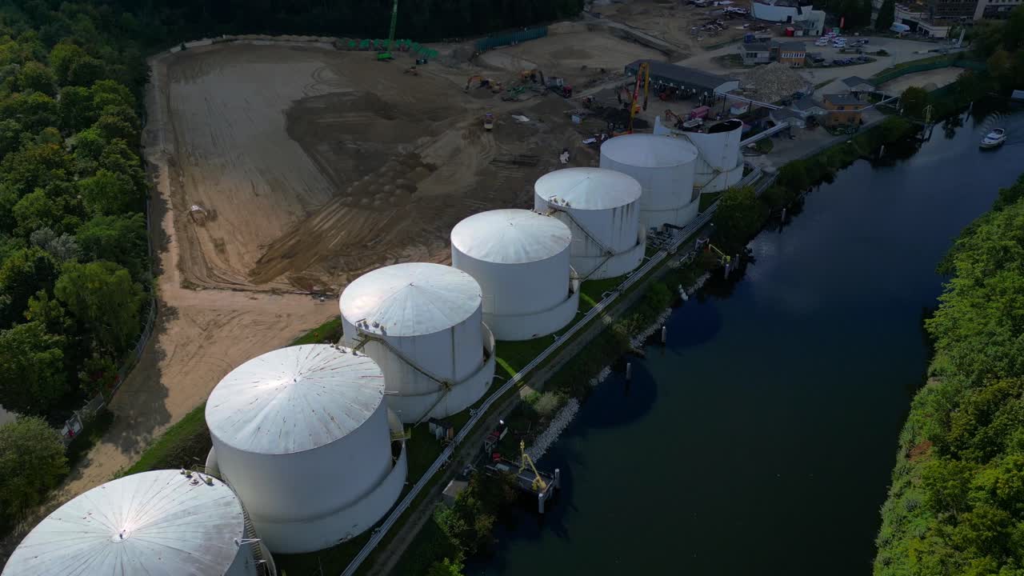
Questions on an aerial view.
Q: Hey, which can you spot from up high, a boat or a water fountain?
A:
boat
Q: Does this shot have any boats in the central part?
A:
No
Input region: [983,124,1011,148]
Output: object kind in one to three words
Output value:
boat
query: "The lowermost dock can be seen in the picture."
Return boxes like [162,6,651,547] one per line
[474,445,562,508]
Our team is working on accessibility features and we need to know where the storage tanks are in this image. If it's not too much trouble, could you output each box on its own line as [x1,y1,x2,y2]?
[339,262,498,423]
[600,132,703,232]
[1,459,278,576]
[449,204,586,341]
[653,115,752,192]
[206,336,411,558]
[534,168,654,281]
